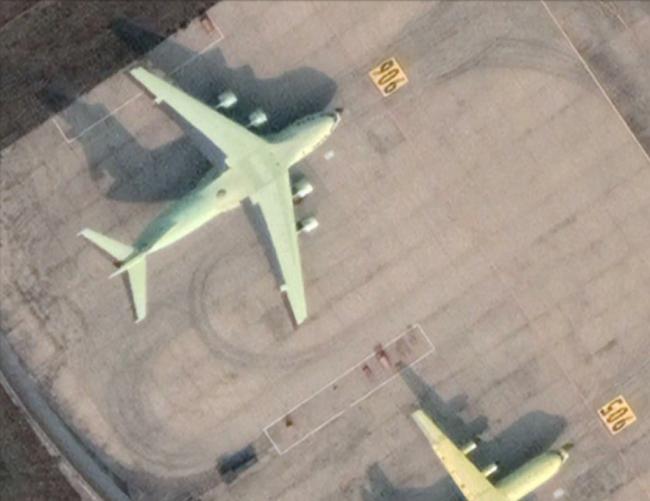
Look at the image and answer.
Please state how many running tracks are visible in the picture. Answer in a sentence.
I count no running tracks.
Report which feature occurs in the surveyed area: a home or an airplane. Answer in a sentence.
The image shows an airplane.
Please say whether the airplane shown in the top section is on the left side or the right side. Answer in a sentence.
It is on the left.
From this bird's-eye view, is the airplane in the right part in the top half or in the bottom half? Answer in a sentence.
Seen from above, the airplane in the right part lies in the bottom half of the view.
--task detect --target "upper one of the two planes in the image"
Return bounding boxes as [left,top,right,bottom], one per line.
[76,67,342,326]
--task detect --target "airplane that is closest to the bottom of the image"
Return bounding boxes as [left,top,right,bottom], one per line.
[415,412,571,501]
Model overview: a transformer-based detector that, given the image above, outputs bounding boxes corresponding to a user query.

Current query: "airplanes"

[415,412,571,501]
[76,67,342,326]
